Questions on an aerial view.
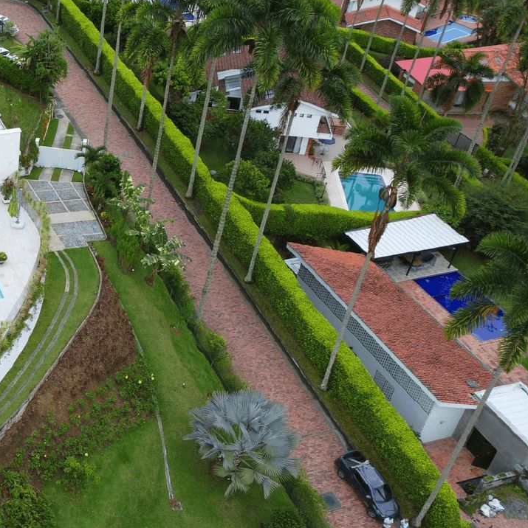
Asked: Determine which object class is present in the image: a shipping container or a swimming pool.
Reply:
swimming pool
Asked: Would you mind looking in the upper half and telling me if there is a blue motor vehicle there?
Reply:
No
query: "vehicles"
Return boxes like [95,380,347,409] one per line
[0,40,23,68]
[333,443,407,527]
[0,12,25,40]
